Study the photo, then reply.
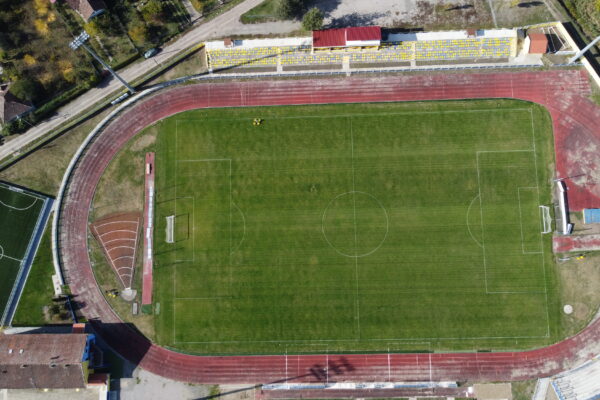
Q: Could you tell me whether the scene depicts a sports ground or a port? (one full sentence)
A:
This looks like a sports ground.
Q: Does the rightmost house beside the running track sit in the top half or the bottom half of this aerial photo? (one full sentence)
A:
The top half of the photo is where the rightmost house beside the running track is.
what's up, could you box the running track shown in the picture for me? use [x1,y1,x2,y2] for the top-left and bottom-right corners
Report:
[63,68,600,386]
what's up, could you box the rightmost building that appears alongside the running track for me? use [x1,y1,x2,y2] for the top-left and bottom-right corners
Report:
[524,34,547,57]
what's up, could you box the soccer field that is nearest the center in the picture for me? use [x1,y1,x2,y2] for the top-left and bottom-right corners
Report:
[156,103,561,355]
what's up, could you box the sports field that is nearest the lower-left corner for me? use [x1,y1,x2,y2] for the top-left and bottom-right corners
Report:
[0,184,46,327]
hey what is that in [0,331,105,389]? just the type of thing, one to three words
building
